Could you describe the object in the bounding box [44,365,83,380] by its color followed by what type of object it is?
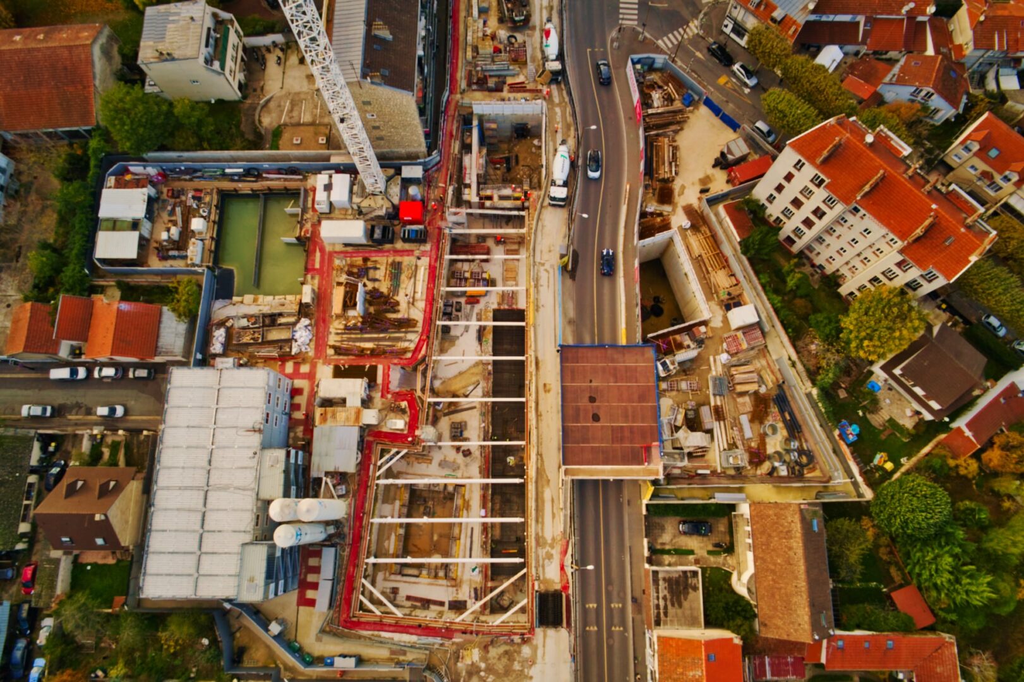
white vehicle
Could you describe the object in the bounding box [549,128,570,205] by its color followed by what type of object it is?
white truck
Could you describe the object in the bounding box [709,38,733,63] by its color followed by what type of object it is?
black car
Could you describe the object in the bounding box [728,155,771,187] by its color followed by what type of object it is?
red shipping container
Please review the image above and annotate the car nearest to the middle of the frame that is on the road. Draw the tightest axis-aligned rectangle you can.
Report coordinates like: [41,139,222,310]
[602,250,615,272]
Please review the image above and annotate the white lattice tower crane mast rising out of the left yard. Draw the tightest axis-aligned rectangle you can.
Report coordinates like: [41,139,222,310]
[278,0,393,207]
